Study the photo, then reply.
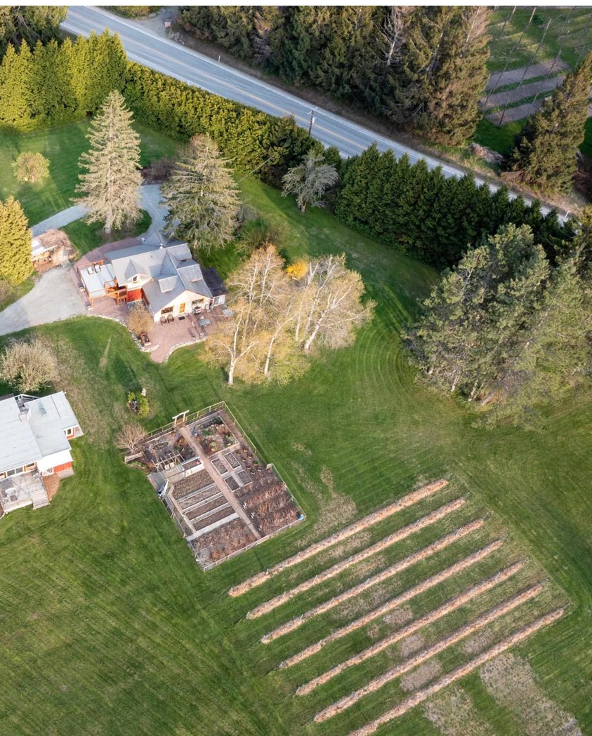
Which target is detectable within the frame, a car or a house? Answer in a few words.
house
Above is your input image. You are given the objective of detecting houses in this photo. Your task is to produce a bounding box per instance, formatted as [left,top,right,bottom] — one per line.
[78,231,227,320]
[0,392,86,518]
